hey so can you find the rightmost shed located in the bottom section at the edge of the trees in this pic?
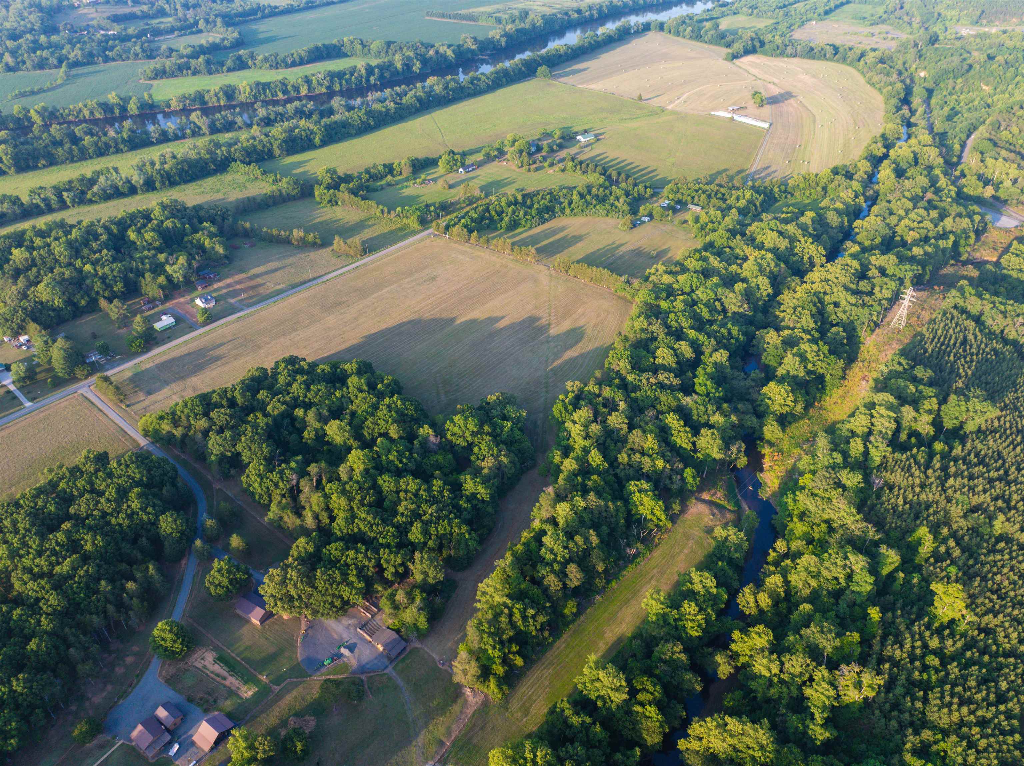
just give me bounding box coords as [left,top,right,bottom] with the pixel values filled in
[363,625,413,671]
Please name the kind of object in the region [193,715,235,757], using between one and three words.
barn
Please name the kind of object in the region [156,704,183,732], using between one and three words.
house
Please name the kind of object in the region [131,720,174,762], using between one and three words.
house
